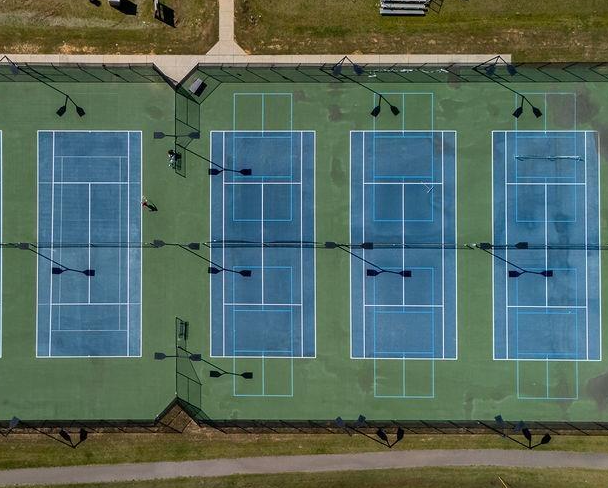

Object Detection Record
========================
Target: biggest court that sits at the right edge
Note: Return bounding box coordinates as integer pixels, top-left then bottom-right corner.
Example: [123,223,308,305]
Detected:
[492,131,601,361]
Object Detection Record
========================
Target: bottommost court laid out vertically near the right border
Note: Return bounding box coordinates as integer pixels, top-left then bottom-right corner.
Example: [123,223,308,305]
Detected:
[517,268,578,398]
